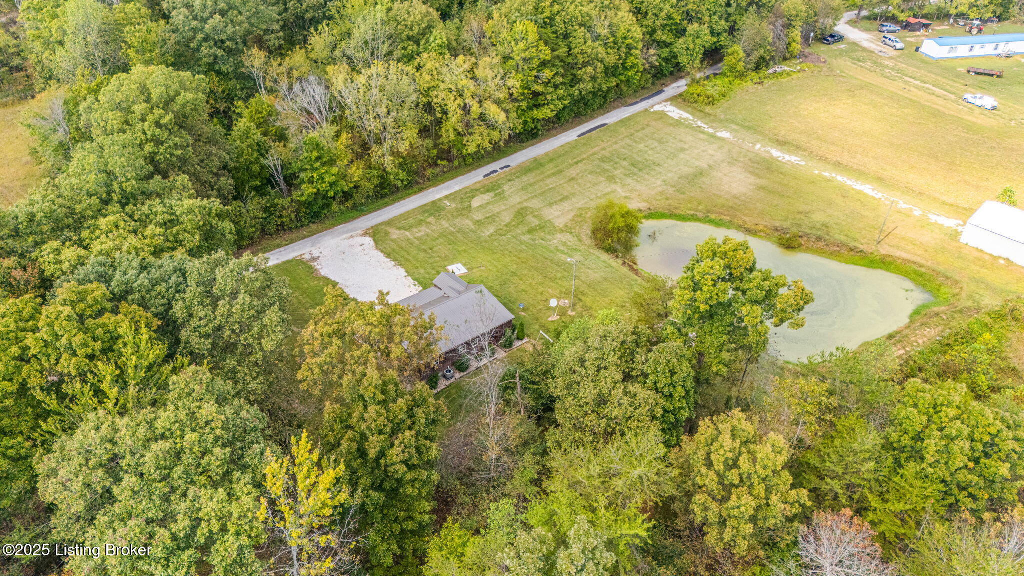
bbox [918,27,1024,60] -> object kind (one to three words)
house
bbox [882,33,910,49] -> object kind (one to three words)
car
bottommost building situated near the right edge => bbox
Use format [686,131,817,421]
[961,201,1024,267]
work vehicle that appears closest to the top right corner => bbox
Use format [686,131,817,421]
[967,18,987,33]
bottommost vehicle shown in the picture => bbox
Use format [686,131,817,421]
[962,91,1003,108]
